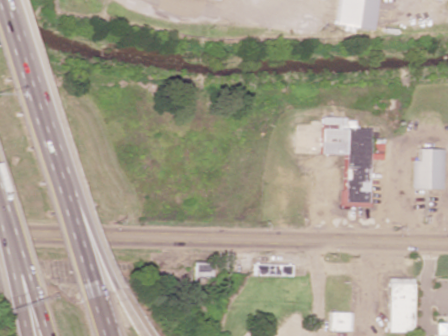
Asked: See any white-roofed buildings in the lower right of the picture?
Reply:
Yes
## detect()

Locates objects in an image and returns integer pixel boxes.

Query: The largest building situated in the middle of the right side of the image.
[321,118,386,206]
